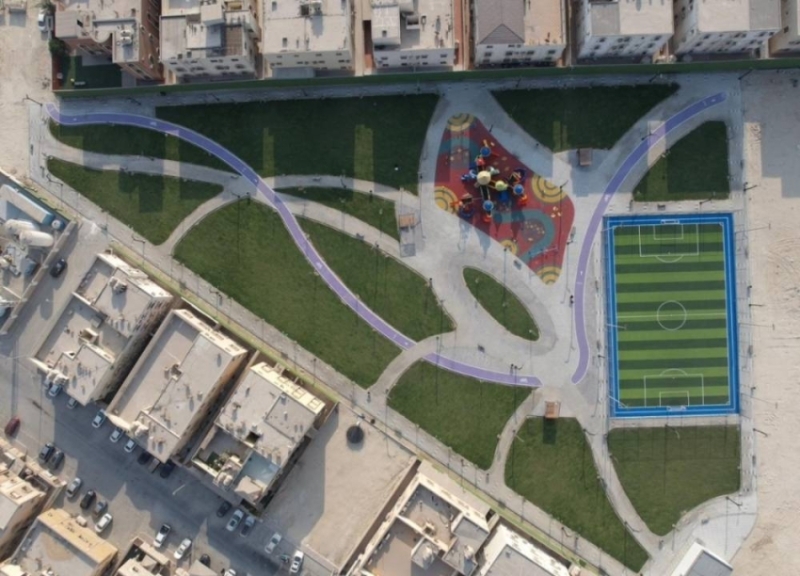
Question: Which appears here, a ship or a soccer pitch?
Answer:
soccer pitch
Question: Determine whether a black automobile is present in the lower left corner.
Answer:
Yes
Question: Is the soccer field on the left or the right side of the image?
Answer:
right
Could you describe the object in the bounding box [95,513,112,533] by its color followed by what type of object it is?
white car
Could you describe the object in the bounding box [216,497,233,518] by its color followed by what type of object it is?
black car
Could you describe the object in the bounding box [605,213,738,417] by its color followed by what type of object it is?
green soccer field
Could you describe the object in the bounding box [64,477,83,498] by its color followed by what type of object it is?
gray car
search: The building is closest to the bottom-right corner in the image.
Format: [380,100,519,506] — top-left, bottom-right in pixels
[670,542,733,576]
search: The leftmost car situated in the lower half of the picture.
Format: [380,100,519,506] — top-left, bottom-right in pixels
[2,417,22,438]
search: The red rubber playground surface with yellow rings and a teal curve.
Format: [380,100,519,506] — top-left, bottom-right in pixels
[434,112,575,285]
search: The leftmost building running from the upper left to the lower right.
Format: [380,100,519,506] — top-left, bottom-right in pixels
[0,184,60,225]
